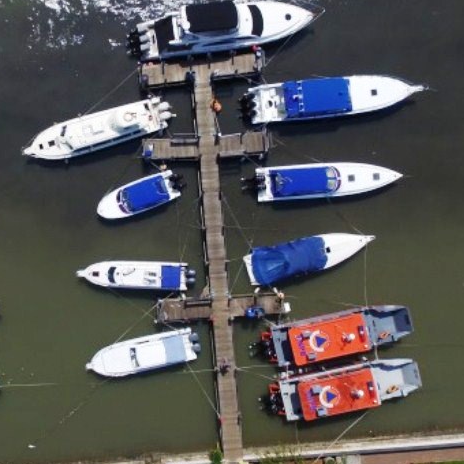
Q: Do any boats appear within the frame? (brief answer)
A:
Yes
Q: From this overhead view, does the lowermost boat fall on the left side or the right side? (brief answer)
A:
right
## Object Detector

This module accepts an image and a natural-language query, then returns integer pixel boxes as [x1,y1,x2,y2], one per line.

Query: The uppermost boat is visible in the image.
[132,2,323,61]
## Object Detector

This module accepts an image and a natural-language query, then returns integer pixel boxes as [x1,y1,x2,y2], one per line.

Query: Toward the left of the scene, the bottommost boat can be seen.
[81,327,204,375]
